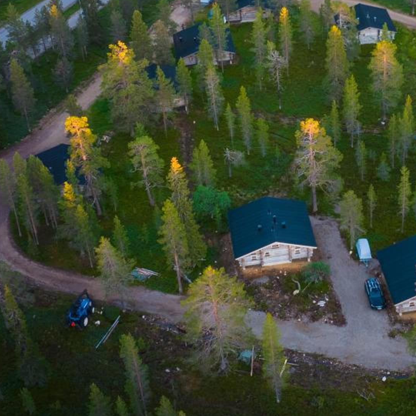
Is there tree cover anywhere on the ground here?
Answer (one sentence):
Yes, tree cover shows up in the scene.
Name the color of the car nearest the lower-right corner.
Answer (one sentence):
From above, the car nearest the lower-right corner appears blue.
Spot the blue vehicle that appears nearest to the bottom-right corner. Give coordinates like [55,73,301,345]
[362,273,388,311]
